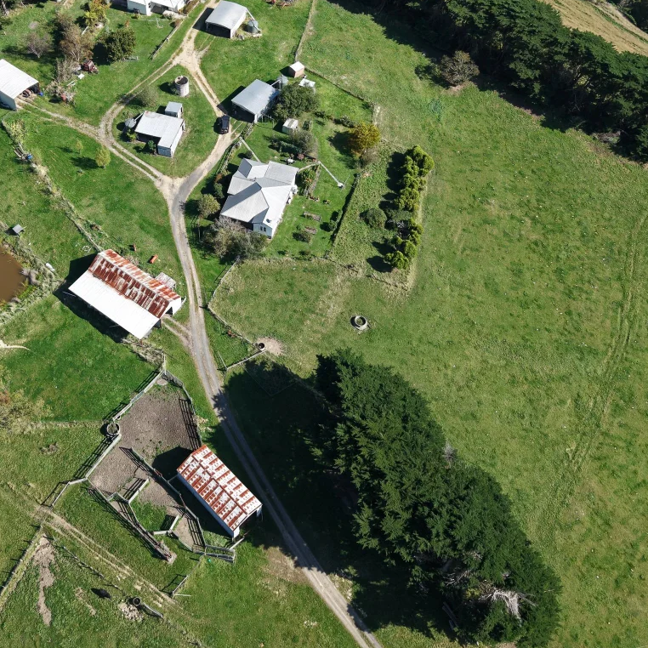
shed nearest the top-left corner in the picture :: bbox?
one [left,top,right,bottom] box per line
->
[0,59,41,111]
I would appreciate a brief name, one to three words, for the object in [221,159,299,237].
house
